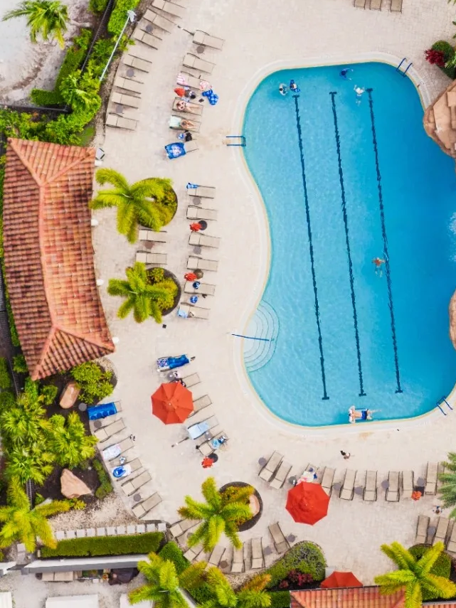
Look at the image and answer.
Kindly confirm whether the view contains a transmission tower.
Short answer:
No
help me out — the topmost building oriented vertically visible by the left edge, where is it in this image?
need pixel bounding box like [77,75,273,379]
[0,136,115,382]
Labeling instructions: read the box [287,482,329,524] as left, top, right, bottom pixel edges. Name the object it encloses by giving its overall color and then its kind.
red umbrella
